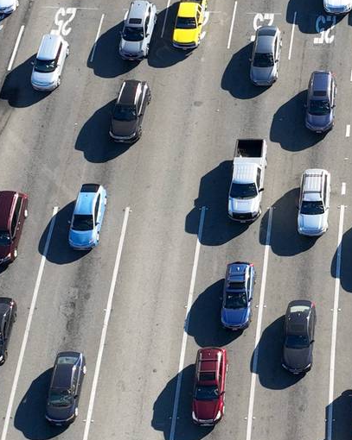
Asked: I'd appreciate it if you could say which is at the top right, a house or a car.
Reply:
car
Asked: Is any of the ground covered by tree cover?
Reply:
No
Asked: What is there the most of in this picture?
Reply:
paved ground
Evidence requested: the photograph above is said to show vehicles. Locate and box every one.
[281,302,317,375]
[170,0,209,51]
[67,184,108,249]
[0,0,21,14]
[0,190,32,267]
[109,80,151,143]
[248,27,282,86]
[296,168,332,236]
[220,259,257,331]
[29,32,70,93]
[119,0,158,61]
[226,138,267,225]
[303,70,336,133]
[44,352,88,426]
[323,0,352,15]
[189,348,230,426]
[0,299,17,368]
